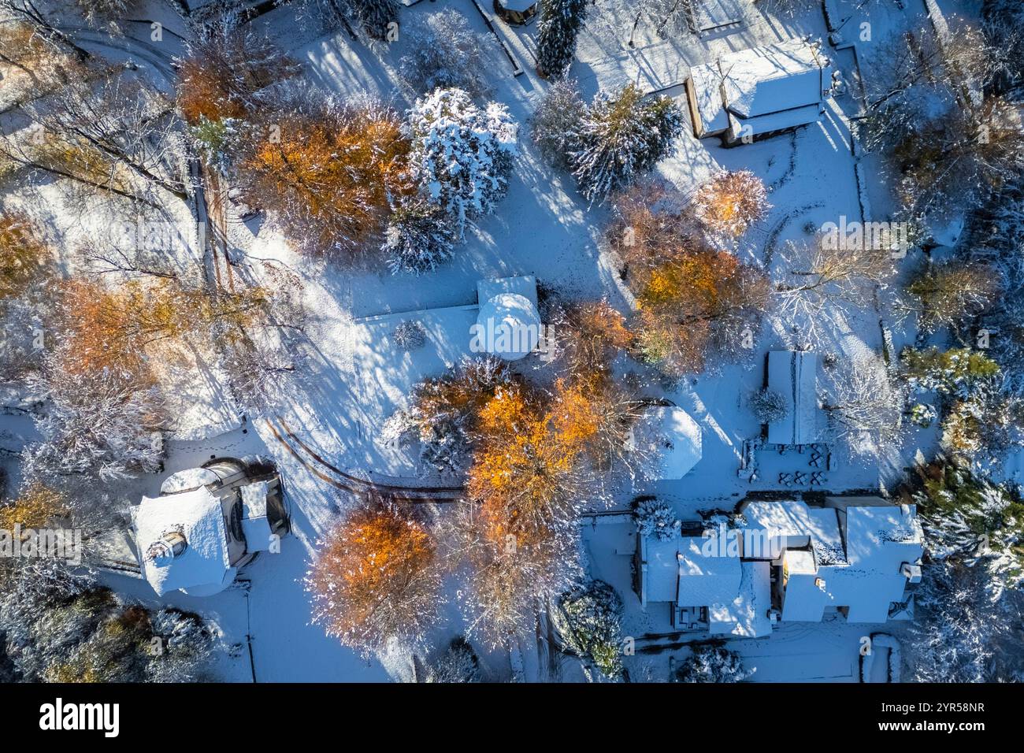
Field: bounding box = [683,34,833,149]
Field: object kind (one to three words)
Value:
house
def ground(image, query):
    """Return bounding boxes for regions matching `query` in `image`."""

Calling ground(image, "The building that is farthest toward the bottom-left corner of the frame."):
[130,456,290,598]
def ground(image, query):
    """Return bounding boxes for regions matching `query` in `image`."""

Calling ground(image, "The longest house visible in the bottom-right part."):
[635,493,925,638]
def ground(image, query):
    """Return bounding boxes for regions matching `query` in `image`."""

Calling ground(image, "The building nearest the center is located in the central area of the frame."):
[474,276,541,361]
